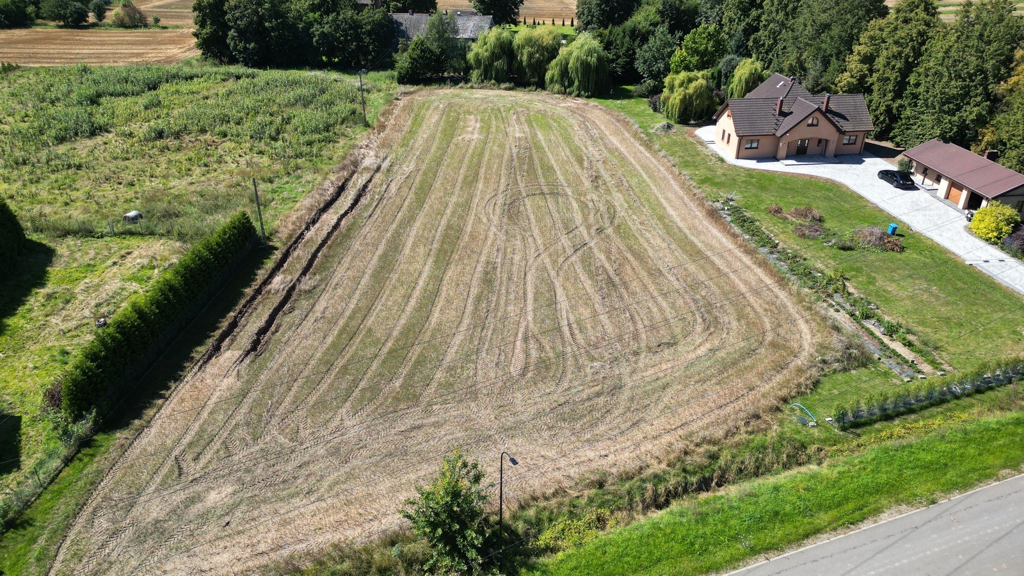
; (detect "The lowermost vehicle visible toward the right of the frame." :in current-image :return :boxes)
[877,167,914,184]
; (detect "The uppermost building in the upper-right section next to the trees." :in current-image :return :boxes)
[704,69,873,162]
